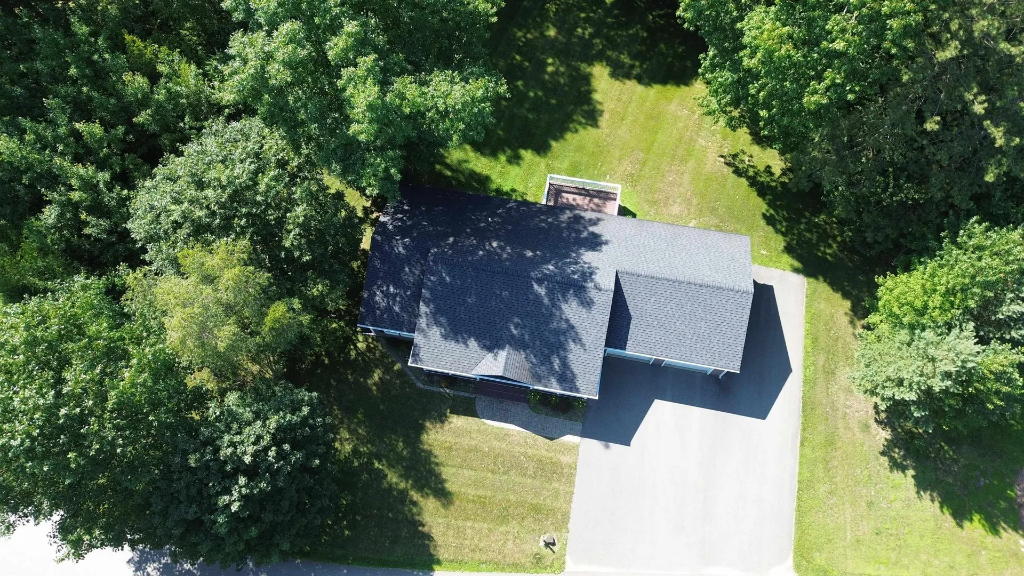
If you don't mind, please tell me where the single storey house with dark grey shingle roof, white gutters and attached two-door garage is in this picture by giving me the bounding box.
[358,182,754,403]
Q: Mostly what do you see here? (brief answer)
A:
trees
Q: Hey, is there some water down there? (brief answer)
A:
No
